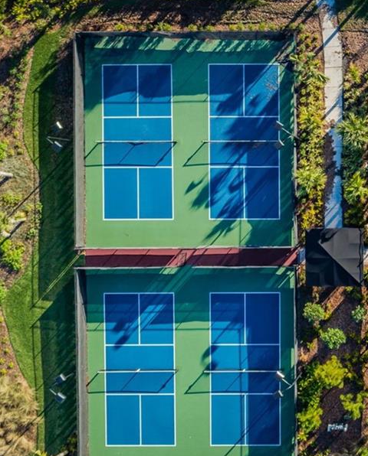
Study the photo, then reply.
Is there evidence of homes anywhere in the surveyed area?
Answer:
No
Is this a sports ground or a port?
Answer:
sports ground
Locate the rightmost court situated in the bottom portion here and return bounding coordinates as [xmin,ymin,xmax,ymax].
[193,269,295,456]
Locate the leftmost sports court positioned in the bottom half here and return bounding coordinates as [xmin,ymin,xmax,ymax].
[86,269,193,456]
